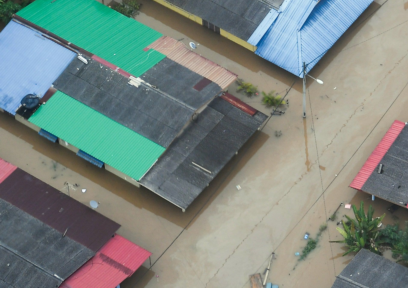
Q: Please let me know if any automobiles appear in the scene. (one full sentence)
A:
No, no automobile is visible in the scene.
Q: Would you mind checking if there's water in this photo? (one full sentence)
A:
Yes, water can be seen from above here.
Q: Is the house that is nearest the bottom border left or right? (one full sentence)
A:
The house that is nearest the bottom border sits on the right side.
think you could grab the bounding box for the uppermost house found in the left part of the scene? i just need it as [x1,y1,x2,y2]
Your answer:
[0,0,268,220]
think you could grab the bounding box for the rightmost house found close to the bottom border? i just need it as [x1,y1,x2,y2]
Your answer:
[328,248,408,288]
